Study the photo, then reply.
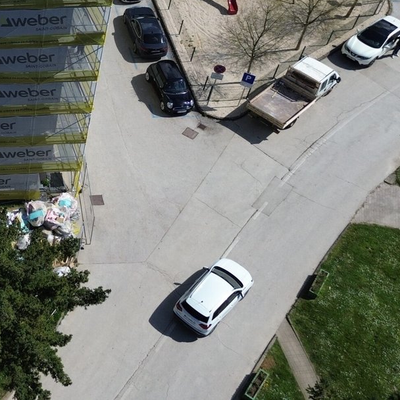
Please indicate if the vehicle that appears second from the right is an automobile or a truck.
truck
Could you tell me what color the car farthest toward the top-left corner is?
black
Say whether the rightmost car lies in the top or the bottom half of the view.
top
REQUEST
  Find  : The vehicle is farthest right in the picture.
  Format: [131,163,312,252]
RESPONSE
[347,13,400,67]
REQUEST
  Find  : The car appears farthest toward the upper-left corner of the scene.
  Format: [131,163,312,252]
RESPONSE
[124,3,171,57]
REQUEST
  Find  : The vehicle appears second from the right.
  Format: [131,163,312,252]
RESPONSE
[256,52,347,131]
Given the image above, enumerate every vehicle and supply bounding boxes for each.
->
[256,52,347,131]
[347,13,400,67]
[124,3,171,57]
[174,252,259,336]
[146,57,194,111]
